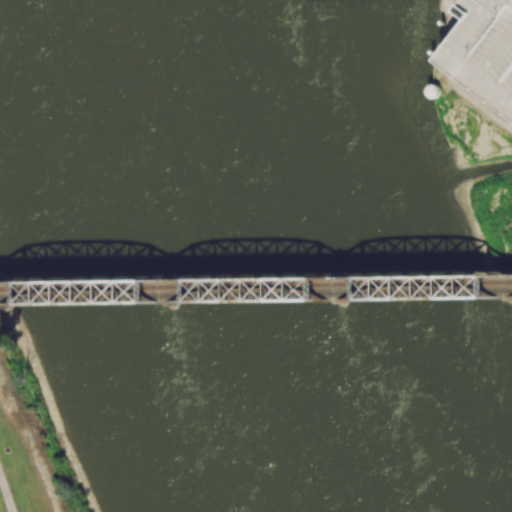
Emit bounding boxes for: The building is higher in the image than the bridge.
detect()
[429,0,512,124]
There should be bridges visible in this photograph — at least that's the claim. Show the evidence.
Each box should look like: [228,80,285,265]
[0,273,512,310]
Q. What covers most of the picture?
water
